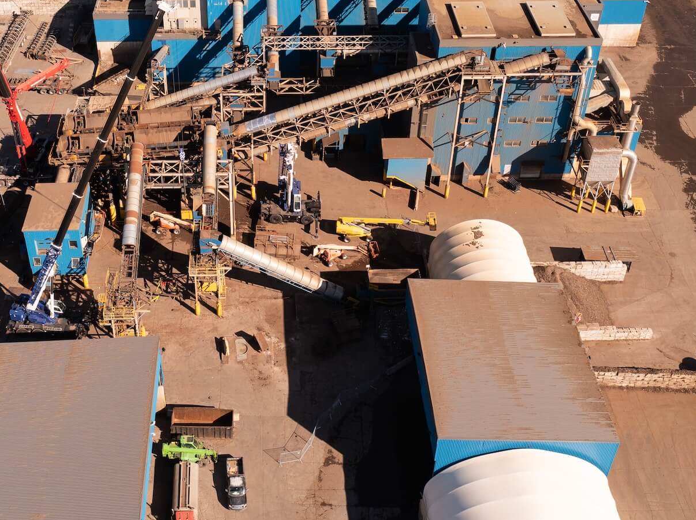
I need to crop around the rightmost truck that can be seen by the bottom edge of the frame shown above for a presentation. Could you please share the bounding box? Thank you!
[223,449,248,508]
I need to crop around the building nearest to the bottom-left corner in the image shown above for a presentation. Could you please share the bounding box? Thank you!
[0,342,171,520]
